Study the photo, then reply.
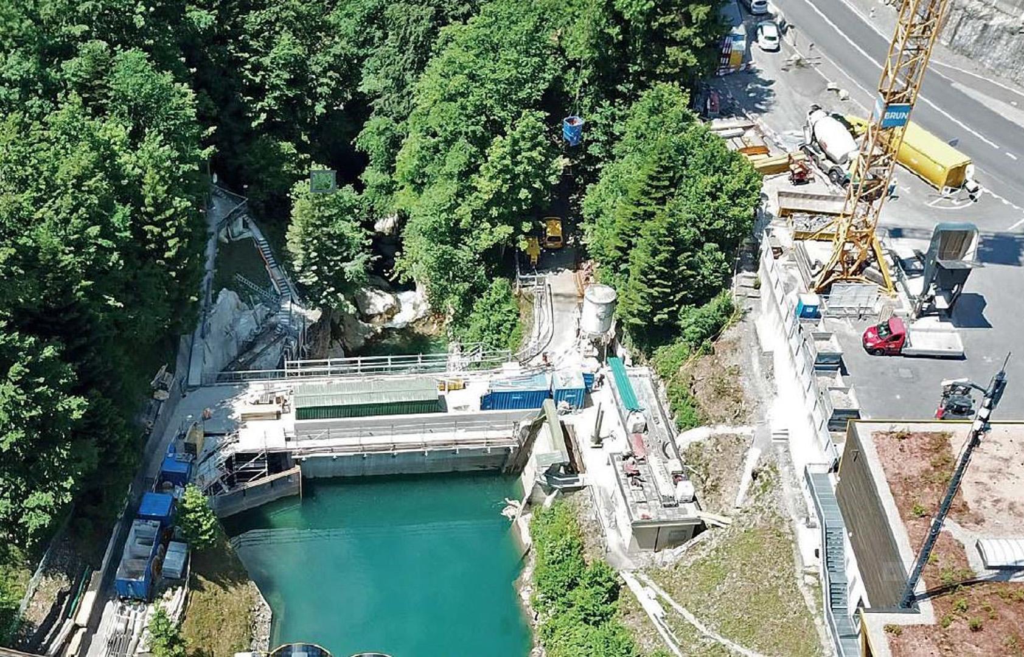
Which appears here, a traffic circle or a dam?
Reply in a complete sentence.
Visible in the photo is a dam.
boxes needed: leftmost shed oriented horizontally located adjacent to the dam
[291,375,447,420]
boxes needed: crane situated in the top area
[800,0,945,298]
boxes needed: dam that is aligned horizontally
[295,407,525,474]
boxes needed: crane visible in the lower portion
[522,401,580,494]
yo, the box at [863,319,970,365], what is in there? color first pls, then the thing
white truck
